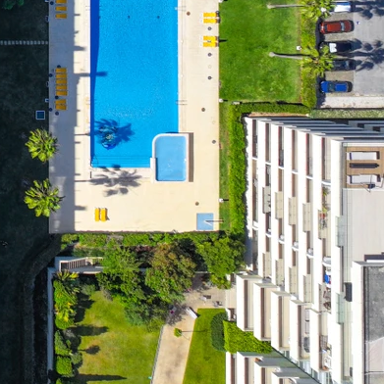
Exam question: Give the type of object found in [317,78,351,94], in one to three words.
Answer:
car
